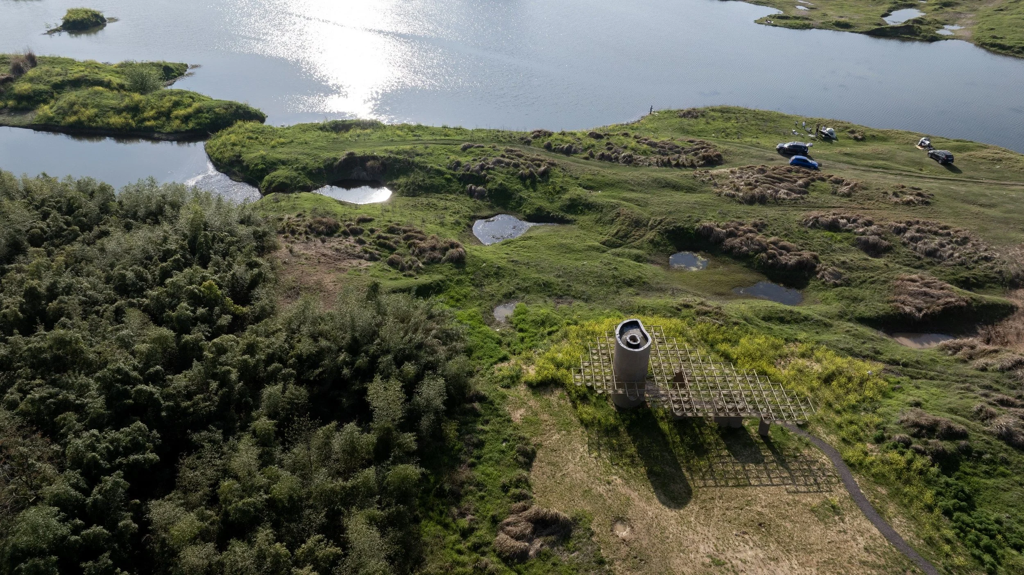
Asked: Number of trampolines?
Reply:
0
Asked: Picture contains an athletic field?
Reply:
No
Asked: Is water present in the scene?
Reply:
Yes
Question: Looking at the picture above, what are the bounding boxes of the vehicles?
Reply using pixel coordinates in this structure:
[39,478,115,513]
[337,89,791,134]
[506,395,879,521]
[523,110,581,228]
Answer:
[775,137,819,152]
[928,146,957,163]
[789,149,823,167]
